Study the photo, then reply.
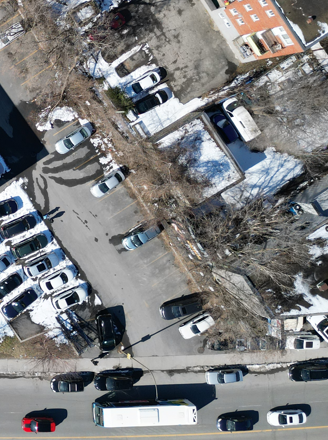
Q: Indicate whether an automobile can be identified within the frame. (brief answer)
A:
Yes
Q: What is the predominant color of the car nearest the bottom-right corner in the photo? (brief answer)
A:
white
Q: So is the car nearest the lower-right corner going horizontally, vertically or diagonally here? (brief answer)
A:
horizontally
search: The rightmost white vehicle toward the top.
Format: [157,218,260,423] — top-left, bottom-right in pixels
[220,99,264,142]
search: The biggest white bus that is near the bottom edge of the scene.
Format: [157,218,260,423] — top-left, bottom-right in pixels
[85,395,198,426]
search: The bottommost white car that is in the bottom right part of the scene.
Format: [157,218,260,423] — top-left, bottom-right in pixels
[266,408,307,429]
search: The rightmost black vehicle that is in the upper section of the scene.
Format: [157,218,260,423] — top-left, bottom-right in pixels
[210,112,242,145]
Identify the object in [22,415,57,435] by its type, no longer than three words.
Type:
car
